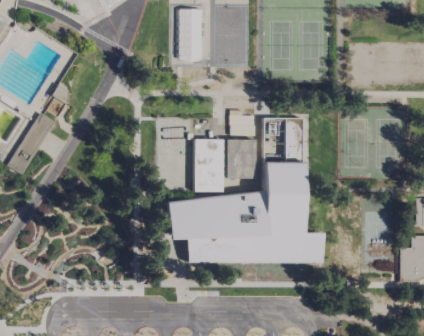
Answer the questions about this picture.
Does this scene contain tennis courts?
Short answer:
Yes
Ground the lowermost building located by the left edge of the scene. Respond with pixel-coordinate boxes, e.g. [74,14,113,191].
[5,116,54,172]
